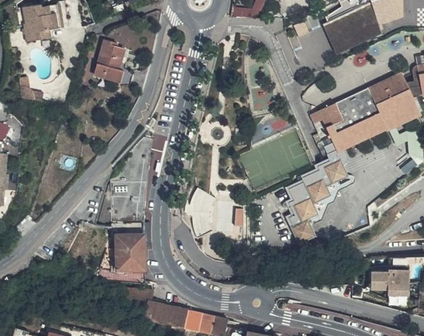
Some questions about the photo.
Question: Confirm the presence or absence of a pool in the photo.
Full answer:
Yes, this view includes a pool.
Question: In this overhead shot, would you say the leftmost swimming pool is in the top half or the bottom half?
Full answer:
The leftmost swimming pool is in the top half of the image.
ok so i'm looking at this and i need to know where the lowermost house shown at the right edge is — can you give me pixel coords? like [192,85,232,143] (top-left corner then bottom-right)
[371,270,410,306]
